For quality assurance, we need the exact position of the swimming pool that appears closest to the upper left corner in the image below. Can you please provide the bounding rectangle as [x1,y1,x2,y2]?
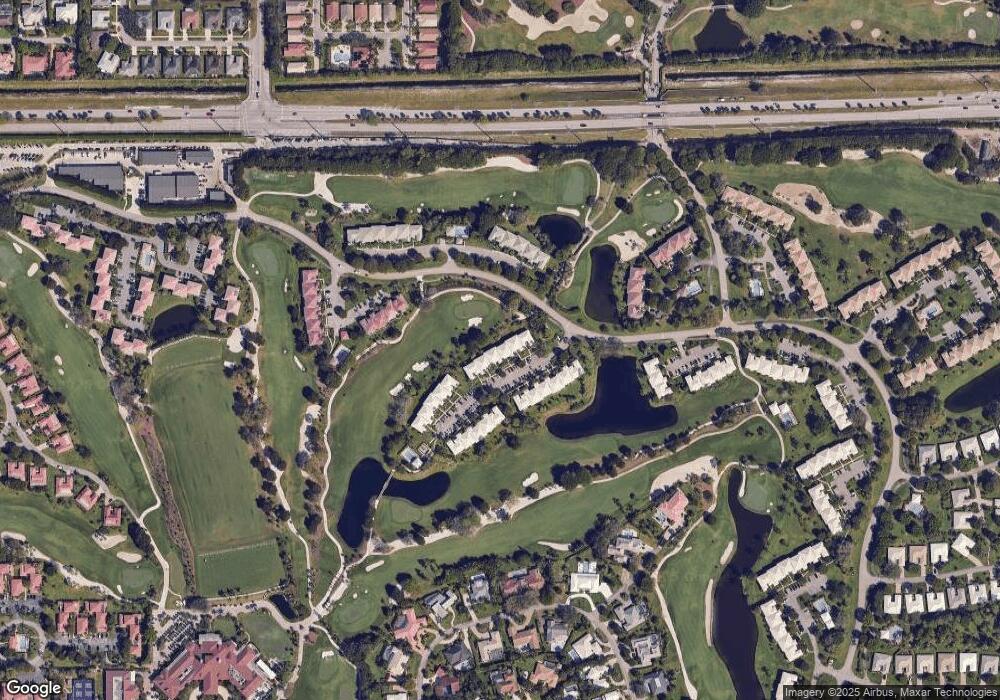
[139,249,156,271]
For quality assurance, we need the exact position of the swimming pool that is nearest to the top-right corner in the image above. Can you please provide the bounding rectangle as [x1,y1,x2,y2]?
[917,301,944,325]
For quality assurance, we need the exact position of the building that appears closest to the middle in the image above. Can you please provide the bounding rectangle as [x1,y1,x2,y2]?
[464,328,534,379]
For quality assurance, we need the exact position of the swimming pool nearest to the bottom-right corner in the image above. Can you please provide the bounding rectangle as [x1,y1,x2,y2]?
[889,625,903,641]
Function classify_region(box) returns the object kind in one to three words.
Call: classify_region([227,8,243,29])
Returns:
house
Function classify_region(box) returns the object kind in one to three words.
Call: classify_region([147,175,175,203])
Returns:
building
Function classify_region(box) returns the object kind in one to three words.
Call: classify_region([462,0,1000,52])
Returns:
golf course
